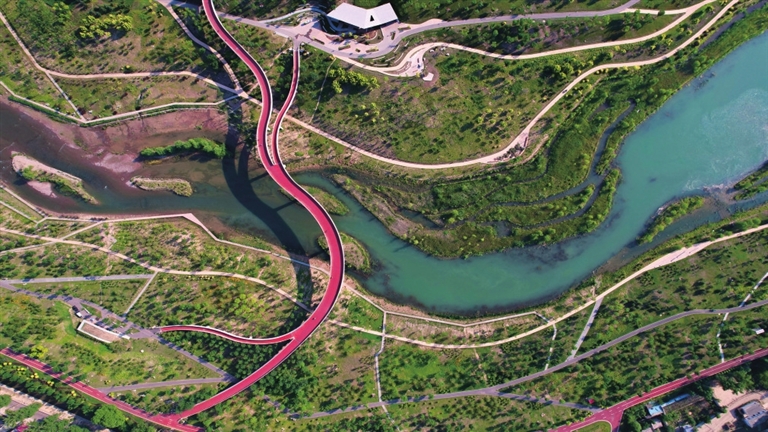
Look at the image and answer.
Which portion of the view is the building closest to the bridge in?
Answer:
top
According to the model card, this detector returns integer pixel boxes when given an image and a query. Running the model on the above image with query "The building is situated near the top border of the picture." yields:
[327,2,398,28]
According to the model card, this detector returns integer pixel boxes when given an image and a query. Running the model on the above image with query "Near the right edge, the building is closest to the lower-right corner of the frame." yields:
[738,399,768,428]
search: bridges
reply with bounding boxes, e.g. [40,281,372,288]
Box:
[149,0,345,413]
